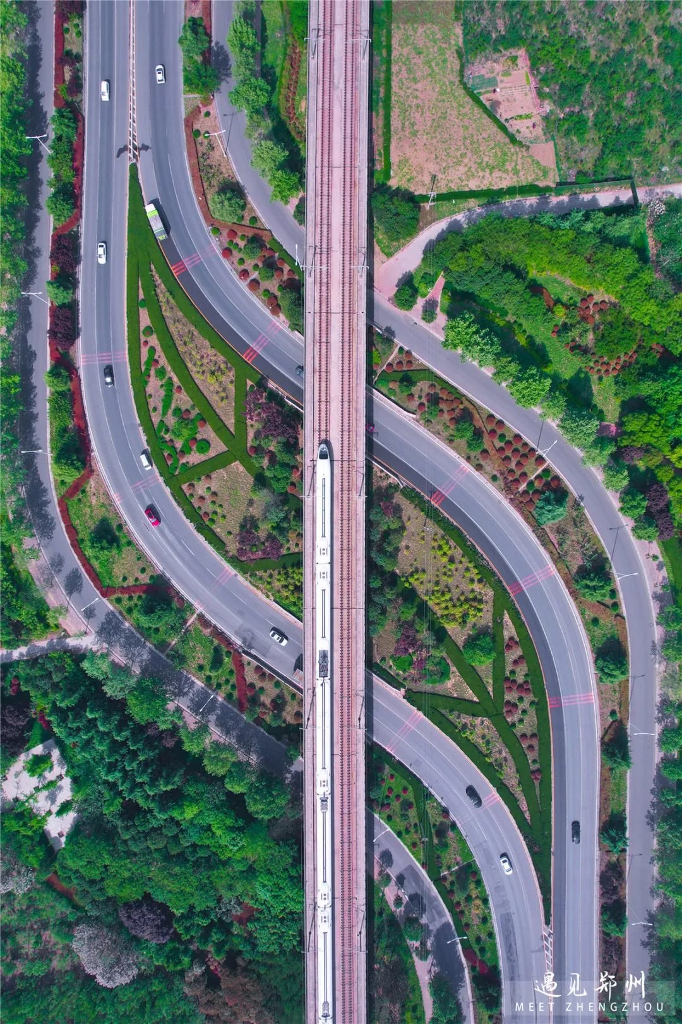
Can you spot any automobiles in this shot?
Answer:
Yes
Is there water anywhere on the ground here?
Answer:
No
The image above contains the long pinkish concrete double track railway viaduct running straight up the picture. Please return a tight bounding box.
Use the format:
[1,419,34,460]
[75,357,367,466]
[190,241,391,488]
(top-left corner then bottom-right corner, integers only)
[303,0,370,1024]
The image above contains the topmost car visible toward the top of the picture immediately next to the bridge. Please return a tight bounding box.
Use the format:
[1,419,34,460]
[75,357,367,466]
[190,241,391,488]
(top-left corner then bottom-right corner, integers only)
[290,364,304,381]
